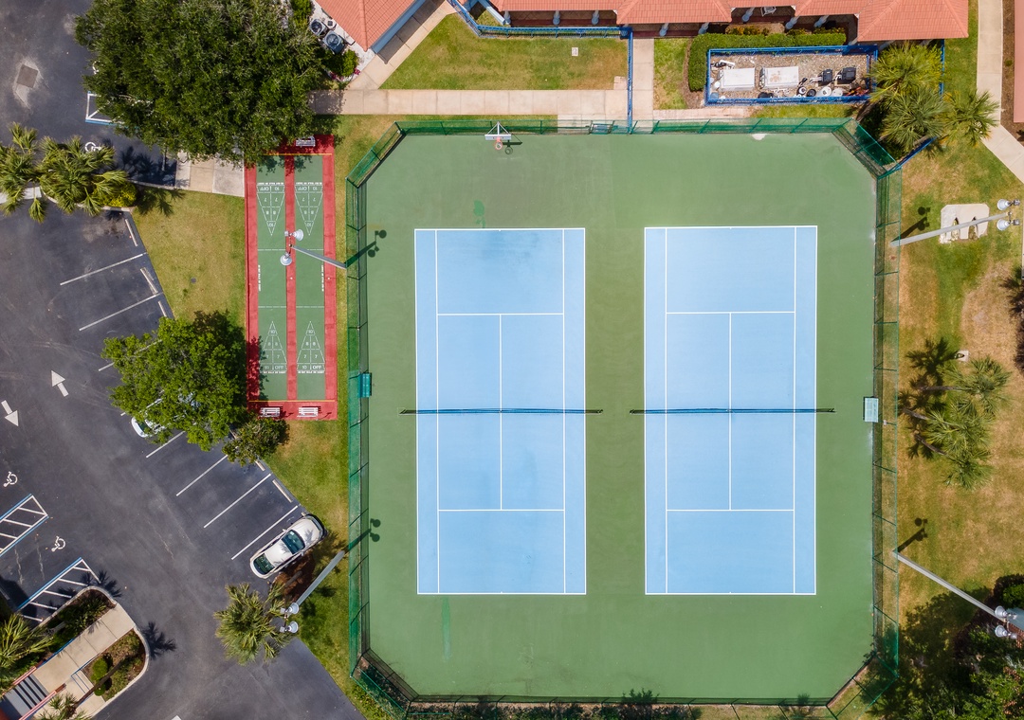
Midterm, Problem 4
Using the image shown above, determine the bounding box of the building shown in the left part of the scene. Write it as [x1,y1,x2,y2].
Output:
[315,0,421,51]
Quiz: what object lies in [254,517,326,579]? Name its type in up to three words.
car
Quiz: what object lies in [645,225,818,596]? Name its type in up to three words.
tennis court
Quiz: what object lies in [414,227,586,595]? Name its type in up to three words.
tennis court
